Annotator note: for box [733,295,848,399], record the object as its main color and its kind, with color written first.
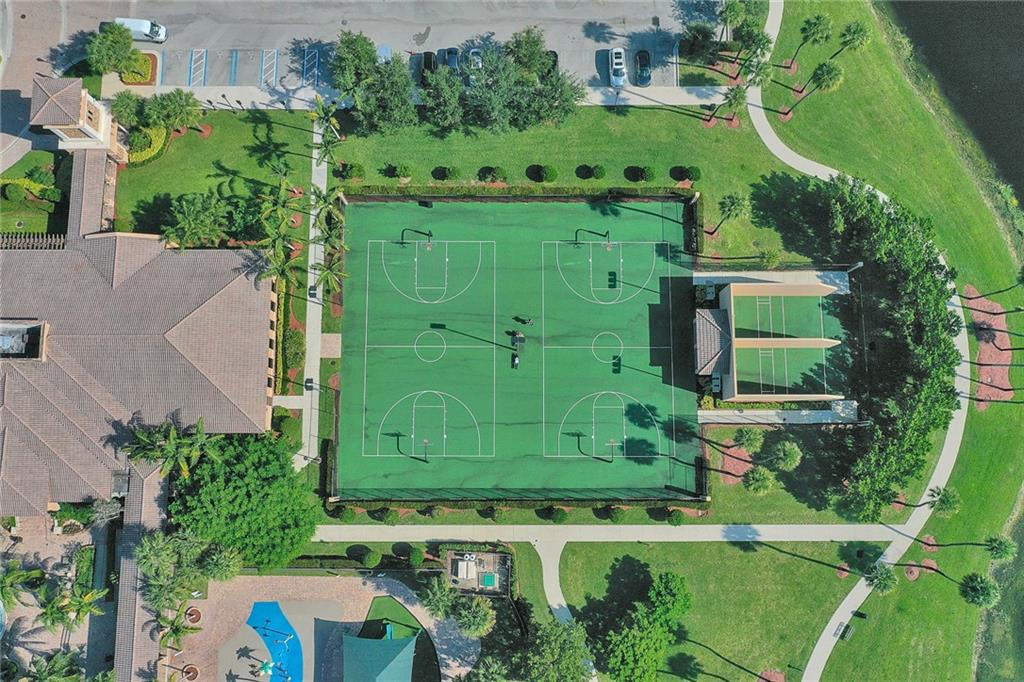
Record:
green sports court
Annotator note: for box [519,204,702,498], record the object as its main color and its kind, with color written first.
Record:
green basketball court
